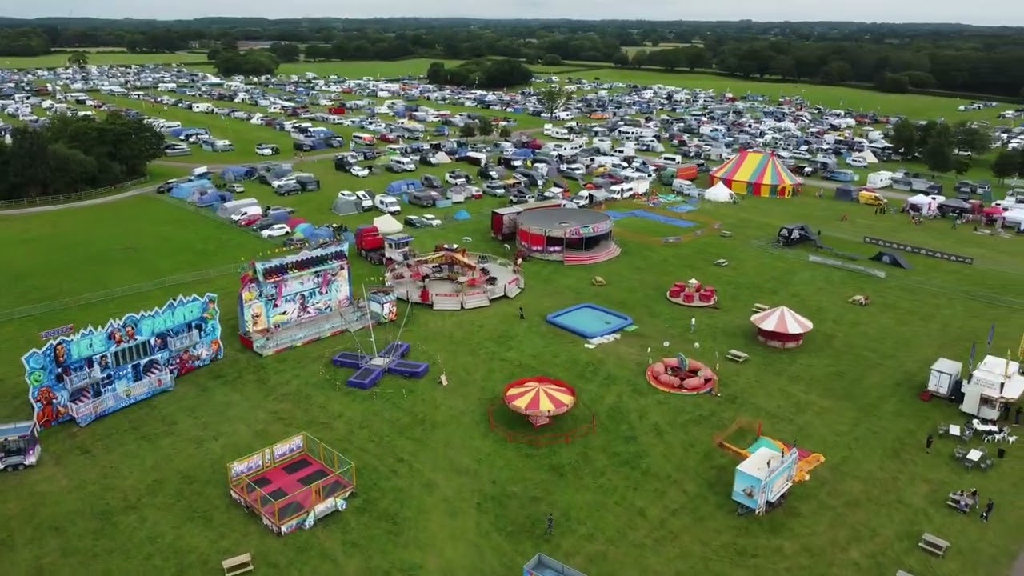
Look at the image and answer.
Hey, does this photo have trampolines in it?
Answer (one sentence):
Yes, a trampoline is visible in the scene.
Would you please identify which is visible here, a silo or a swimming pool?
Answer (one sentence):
There is a swimming pool in the scene.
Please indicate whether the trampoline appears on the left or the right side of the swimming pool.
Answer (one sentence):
From the viewer's perspective, the trampoline falls to the left of the swimming pool.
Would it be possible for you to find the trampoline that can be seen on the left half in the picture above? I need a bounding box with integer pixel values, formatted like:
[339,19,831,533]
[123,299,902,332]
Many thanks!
[325,280,433,395]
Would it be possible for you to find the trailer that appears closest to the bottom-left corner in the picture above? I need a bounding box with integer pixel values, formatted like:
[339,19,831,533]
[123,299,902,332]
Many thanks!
[0,416,37,471]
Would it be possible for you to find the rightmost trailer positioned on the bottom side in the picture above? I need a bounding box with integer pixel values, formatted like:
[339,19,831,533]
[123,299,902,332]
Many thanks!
[961,362,1024,416]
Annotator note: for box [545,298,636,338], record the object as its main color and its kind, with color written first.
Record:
blue swimming pool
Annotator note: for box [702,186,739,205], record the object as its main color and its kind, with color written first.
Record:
white tent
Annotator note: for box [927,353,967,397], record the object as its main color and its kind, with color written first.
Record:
white trailer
